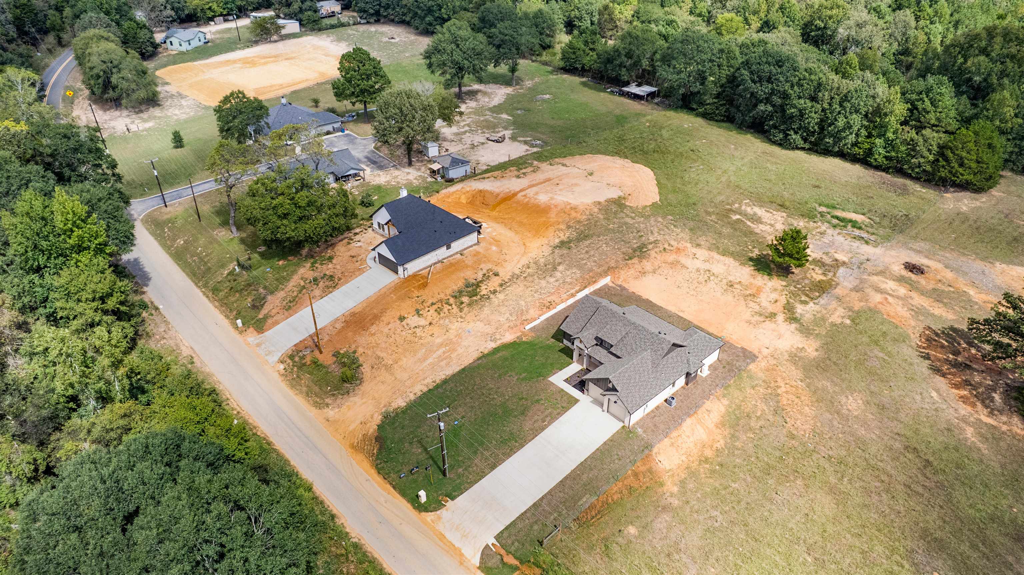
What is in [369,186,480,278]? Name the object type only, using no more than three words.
house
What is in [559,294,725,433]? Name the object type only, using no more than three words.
house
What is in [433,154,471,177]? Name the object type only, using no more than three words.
shed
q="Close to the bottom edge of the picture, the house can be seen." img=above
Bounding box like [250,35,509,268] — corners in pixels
[421,396,624,566]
